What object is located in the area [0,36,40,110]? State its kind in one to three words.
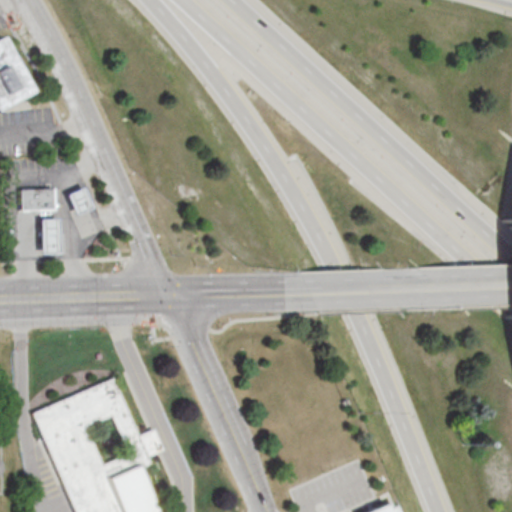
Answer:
building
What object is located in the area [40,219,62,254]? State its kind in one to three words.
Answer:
shed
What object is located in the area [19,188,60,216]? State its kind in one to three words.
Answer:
building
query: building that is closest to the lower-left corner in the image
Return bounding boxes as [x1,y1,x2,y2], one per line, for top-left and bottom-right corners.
[30,378,173,512]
